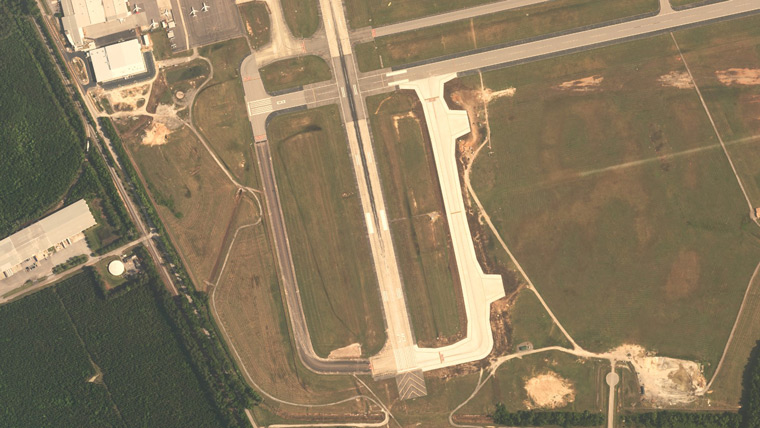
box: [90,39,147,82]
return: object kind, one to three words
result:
hangar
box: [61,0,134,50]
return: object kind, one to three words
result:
building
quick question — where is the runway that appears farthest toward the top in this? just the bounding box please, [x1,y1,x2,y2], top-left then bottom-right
[248,0,760,127]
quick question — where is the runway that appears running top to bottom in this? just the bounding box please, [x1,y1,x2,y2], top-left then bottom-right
[317,0,421,386]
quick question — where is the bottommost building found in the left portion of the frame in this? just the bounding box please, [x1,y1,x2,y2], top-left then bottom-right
[0,199,96,278]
